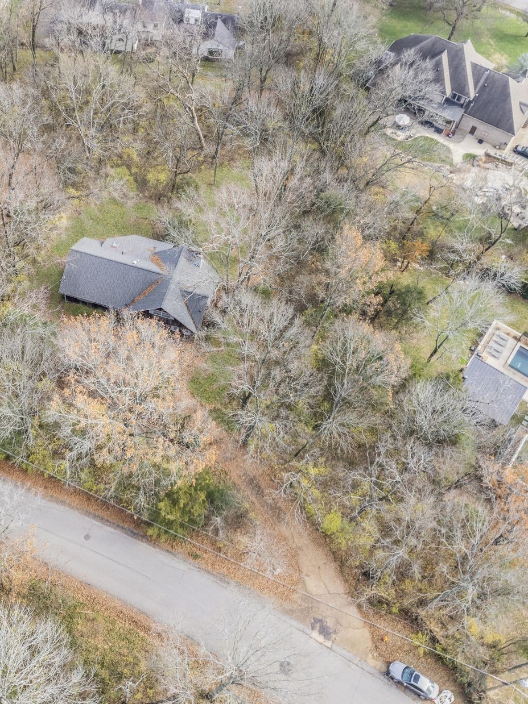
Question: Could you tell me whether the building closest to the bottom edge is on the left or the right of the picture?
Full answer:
It is on the right.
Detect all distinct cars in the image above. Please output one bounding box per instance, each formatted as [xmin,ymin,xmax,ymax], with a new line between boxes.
[388,661,442,704]
[510,138,528,155]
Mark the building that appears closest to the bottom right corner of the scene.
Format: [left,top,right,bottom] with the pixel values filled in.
[457,355,527,431]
